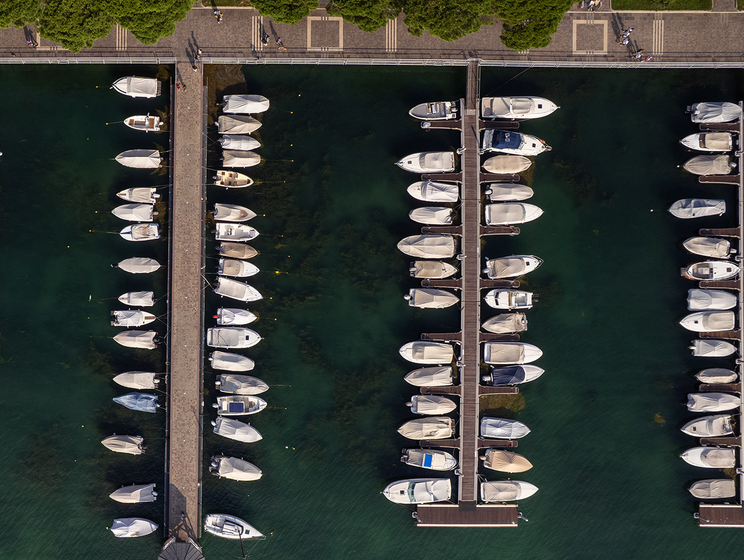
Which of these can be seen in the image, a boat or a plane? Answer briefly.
boat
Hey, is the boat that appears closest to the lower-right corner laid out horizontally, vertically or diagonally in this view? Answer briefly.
horizontally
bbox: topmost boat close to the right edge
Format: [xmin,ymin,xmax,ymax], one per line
[680,98,743,125]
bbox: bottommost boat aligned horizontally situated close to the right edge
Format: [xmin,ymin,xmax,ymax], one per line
[684,476,740,501]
